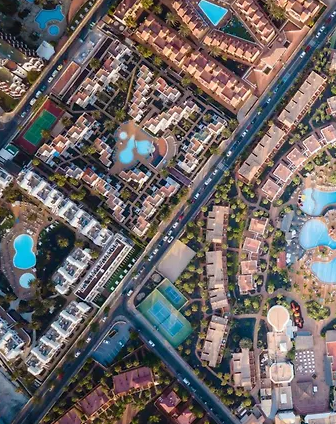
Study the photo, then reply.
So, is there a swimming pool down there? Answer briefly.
Yes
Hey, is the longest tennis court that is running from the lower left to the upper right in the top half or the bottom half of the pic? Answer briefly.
top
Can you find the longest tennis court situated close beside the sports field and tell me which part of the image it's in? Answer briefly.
bottom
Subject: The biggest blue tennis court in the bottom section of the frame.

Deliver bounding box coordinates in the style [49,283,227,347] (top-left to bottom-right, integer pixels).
[135,290,192,348]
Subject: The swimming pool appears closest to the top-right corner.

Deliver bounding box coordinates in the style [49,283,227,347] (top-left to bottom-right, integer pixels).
[198,0,228,26]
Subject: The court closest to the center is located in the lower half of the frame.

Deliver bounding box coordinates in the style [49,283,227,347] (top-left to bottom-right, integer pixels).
[156,278,188,313]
